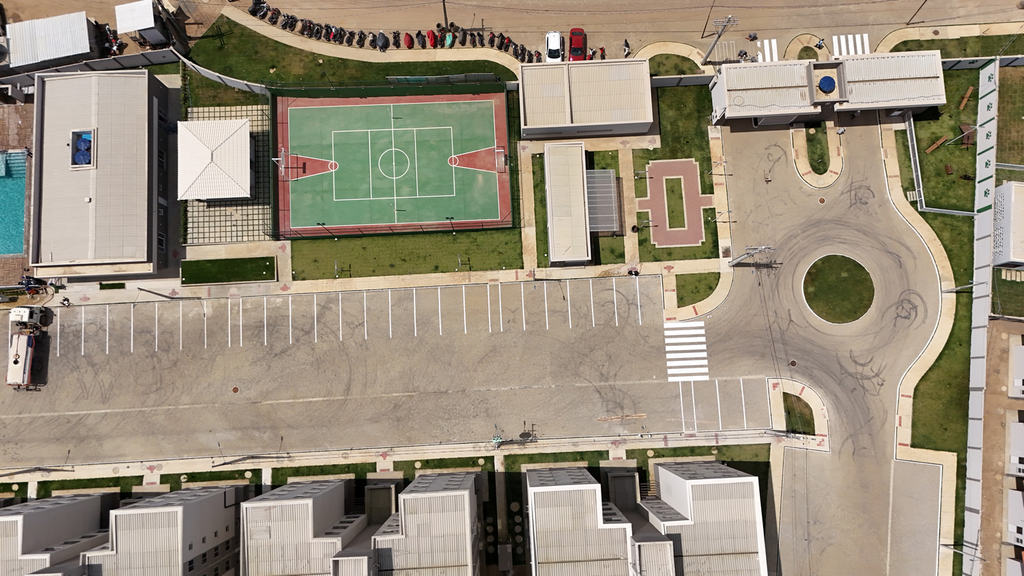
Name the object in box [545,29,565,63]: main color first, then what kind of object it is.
white car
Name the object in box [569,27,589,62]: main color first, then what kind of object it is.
red car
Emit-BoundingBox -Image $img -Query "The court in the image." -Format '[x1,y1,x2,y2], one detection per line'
[276,91,512,236]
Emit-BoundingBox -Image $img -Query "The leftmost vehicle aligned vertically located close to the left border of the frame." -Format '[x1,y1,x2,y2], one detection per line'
[1,306,47,395]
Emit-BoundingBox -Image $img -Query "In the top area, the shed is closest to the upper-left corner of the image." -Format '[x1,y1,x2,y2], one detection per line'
[6,11,101,67]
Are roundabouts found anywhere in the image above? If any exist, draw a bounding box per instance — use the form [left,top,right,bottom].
[803,254,876,326]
